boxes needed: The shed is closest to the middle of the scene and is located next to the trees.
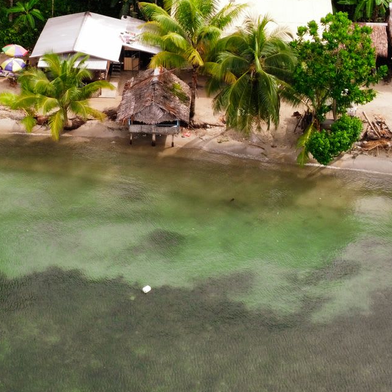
[115,66,195,147]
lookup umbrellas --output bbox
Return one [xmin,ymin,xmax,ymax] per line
[0,58,27,73]
[1,45,28,58]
